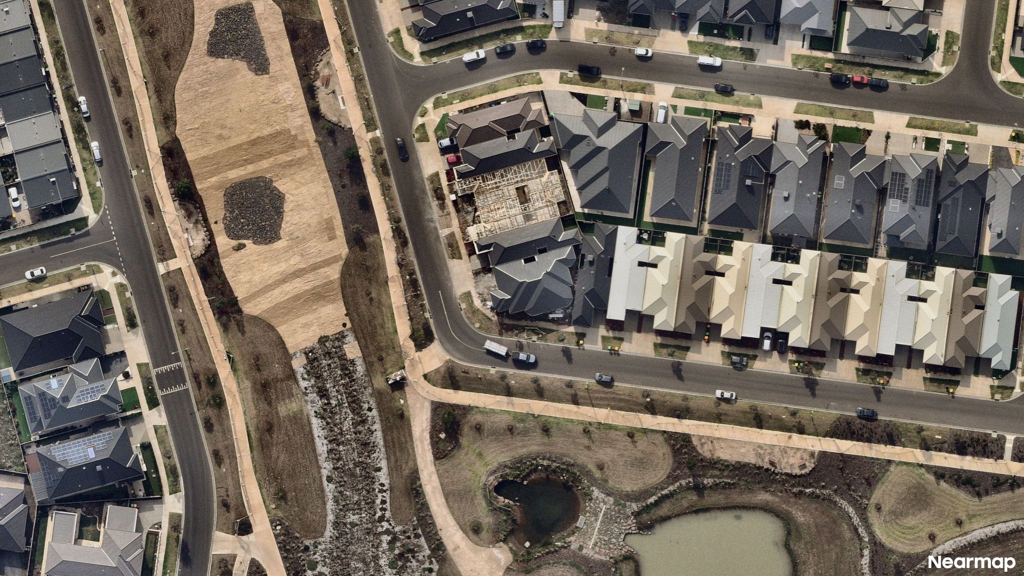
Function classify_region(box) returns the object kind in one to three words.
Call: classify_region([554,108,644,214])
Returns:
house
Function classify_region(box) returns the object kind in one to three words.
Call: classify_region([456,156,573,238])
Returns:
building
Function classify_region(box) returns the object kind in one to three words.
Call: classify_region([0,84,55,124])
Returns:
house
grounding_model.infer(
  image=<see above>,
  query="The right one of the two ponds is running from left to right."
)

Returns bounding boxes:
[624,507,795,576]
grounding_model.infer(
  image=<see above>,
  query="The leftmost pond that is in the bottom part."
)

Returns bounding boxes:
[494,476,581,545]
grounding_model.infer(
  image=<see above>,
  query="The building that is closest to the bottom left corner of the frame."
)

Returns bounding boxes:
[0,486,28,553]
